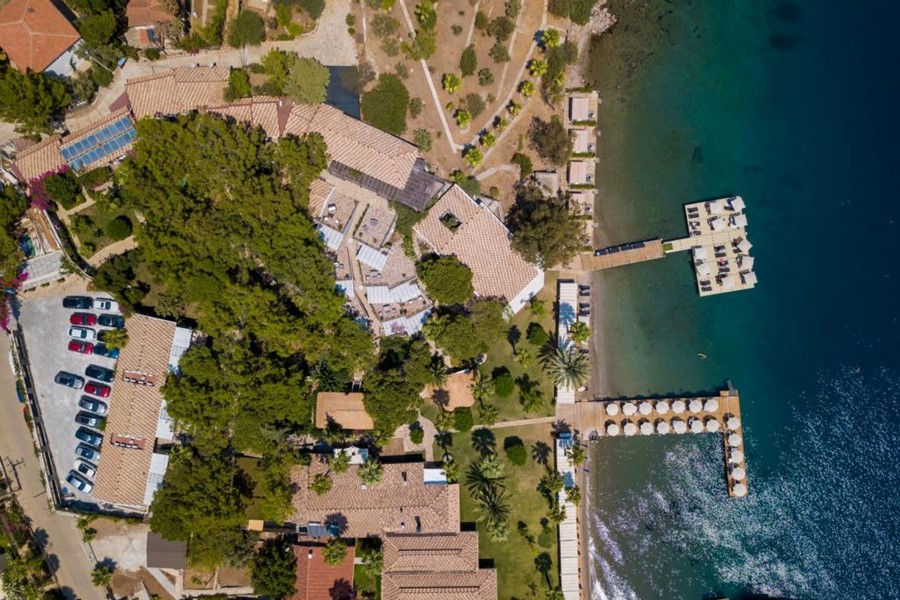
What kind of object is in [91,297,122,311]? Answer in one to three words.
car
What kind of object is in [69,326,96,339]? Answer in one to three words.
vehicle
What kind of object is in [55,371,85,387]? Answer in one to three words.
car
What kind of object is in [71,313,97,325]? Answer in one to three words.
vehicle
